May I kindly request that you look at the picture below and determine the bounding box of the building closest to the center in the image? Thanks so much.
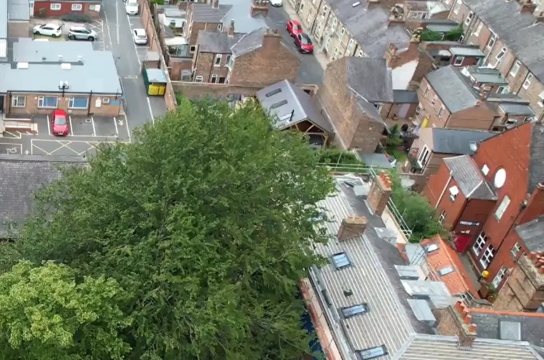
[254,77,339,161]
